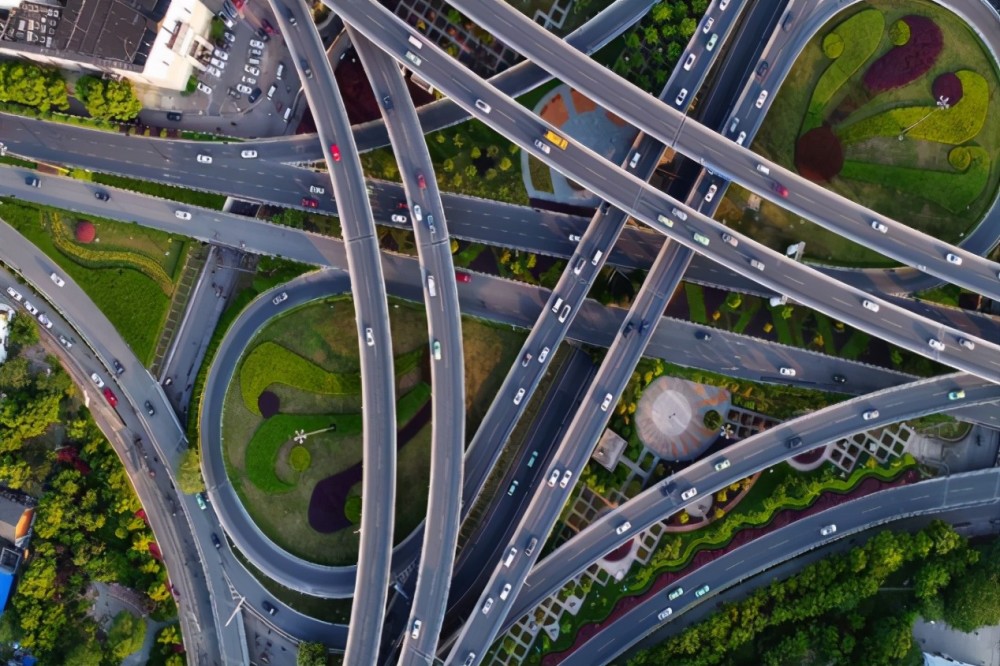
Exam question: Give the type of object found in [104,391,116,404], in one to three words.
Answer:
vehicle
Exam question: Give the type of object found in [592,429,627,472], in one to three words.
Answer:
building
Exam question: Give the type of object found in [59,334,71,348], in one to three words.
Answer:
vehicle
